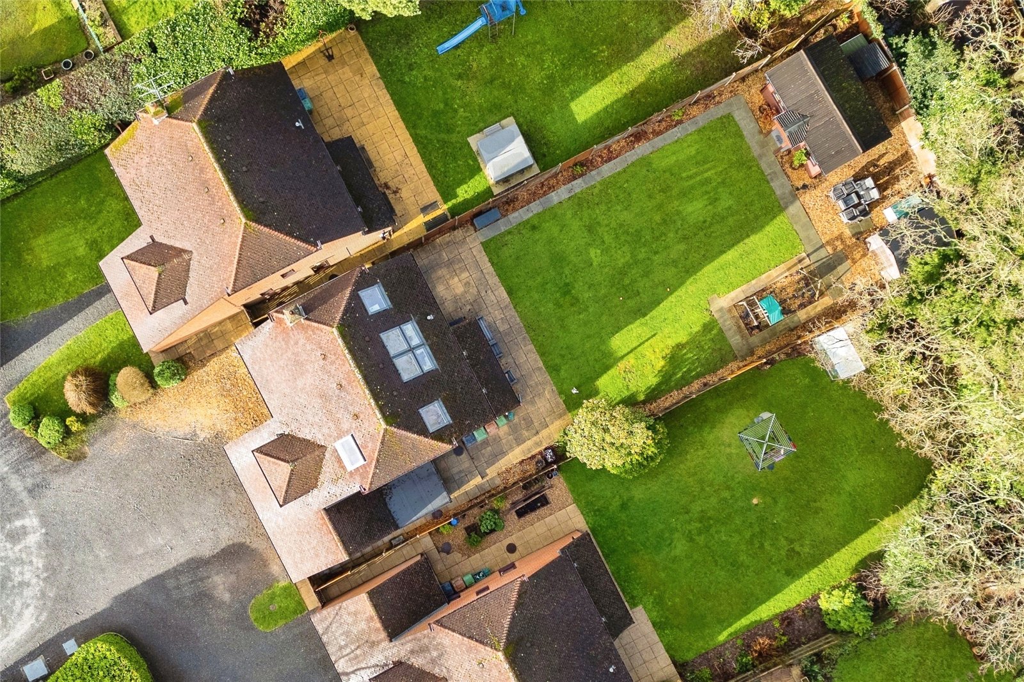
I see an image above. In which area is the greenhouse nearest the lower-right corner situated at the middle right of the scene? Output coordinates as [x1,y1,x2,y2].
[804,326,865,380]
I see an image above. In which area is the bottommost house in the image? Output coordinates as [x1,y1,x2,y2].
[309,526,635,682]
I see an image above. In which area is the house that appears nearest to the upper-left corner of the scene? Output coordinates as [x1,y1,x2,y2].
[98,61,399,353]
